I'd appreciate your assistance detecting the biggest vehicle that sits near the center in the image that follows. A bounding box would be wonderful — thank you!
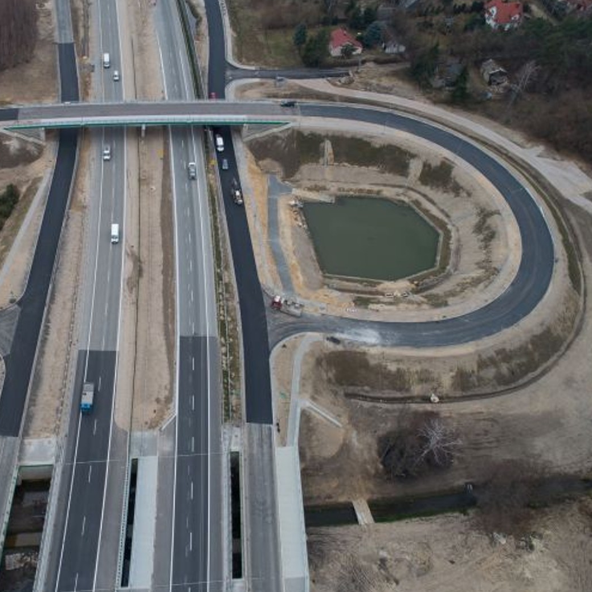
[268,296,305,315]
